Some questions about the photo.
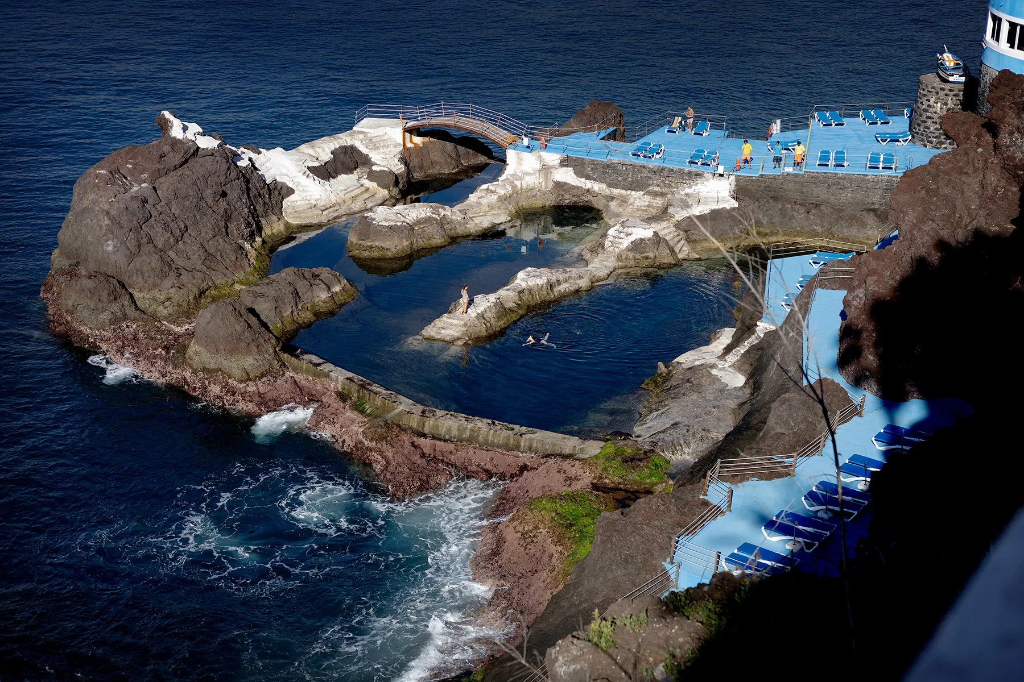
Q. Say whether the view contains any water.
Yes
